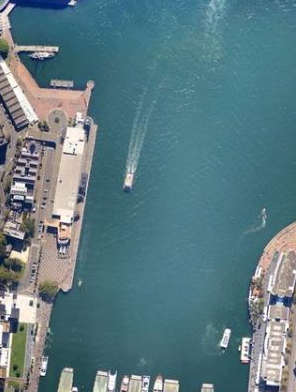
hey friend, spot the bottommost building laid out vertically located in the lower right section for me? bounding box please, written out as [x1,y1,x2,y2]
[263,319,288,388]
